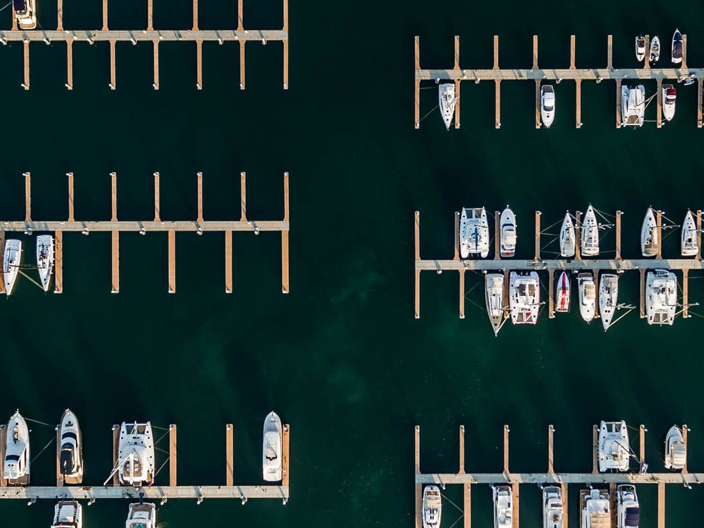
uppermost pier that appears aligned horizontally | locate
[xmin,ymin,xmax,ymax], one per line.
[0,30,288,46]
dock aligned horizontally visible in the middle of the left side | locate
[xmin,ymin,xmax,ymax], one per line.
[0,221,289,236]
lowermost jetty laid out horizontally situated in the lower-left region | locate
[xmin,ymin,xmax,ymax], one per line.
[0,485,289,504]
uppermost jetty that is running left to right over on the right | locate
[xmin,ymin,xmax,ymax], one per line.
[415,69,704,84]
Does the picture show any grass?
No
